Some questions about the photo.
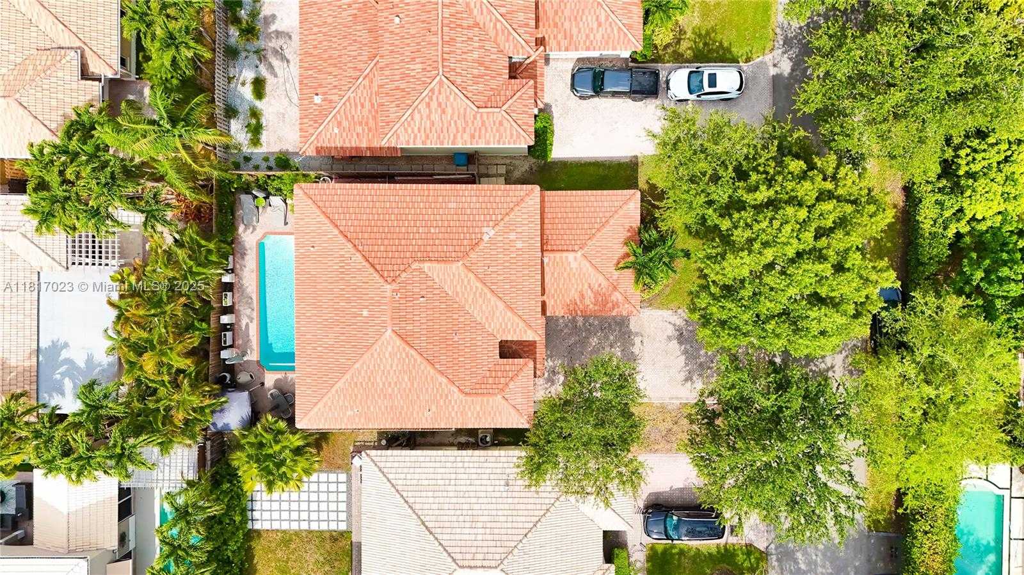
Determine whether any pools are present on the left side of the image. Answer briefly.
Yes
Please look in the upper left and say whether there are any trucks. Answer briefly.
No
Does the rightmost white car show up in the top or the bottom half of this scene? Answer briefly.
top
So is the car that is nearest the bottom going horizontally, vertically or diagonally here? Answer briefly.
horizontally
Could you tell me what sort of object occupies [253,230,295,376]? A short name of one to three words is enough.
swimming pool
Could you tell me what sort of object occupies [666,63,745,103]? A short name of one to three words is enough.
car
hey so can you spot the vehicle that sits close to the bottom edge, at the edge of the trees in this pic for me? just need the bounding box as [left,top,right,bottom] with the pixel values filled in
[643,505,726,547]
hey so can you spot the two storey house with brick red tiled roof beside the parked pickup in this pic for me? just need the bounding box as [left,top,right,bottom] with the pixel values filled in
[298,0,644,157]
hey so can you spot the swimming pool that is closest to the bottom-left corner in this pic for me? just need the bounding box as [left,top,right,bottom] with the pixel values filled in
[156,485,204,575]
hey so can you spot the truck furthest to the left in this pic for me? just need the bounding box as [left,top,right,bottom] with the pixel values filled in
[571,63,661,103]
